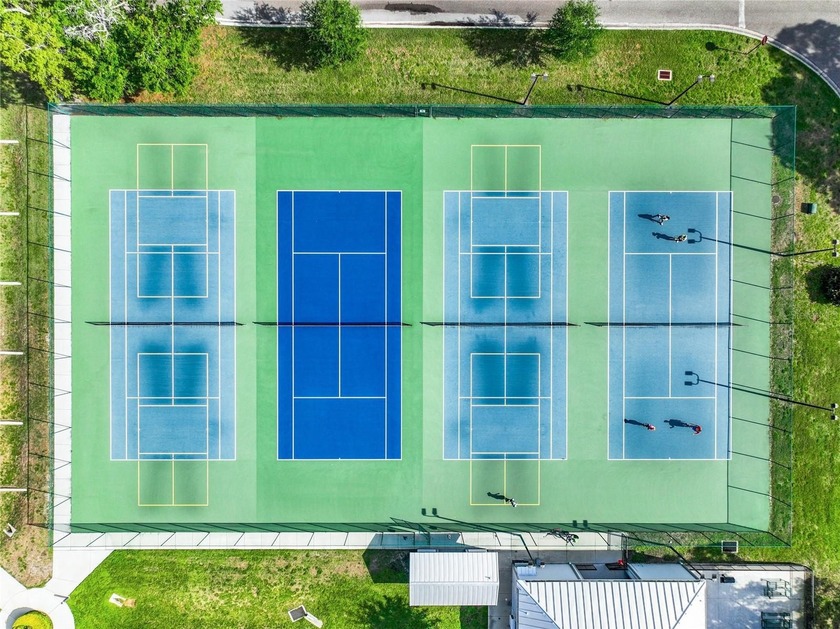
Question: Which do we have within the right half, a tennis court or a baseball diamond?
tennis court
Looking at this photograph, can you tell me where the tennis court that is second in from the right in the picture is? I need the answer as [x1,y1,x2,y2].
[423,117,588,532]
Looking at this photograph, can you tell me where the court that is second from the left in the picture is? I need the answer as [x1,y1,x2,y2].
[256,117,423,532]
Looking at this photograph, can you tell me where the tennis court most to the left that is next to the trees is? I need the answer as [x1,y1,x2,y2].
[71,117,256,532]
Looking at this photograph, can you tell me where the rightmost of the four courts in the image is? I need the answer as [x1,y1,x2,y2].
[588,117,772,532]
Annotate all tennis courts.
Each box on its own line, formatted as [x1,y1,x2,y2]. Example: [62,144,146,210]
[423,117,588,532]
[588,117,772,532]
[256,117,423,532]
[71,117,256,532]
